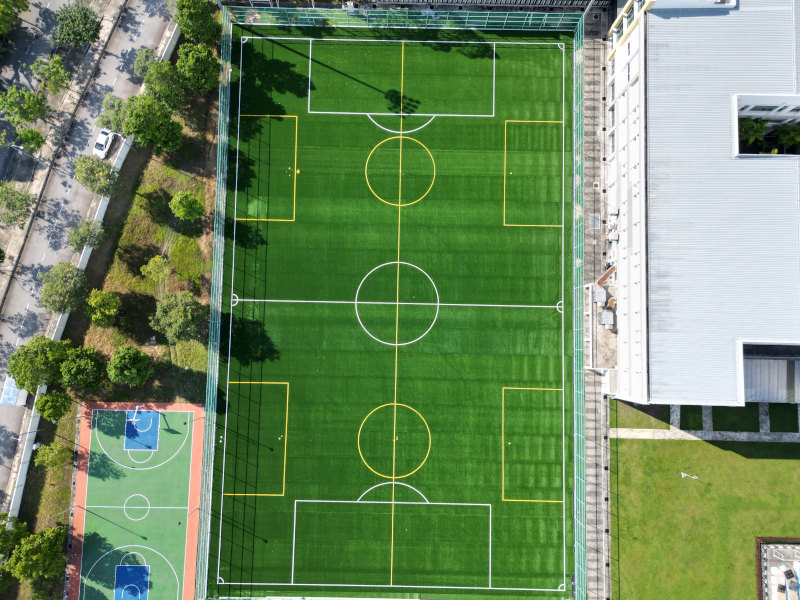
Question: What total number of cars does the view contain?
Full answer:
In total, there is 1 car in the scene.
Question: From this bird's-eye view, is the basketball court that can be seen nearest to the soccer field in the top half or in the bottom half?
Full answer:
The basketball court that can be seen nearest to the soccer field sits in the bottom half of the picture.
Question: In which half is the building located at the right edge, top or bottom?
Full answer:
Seen from above, the building located at the right edge lies in the top half of the view.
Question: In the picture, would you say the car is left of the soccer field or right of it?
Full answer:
The car can be seen on the left of the soccer field.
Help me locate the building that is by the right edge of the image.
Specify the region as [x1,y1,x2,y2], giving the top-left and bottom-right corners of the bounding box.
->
[602,0,800,408]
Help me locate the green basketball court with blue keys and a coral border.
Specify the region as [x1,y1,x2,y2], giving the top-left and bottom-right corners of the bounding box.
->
[68,402,206,600]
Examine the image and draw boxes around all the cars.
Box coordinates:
[93,128,114,157]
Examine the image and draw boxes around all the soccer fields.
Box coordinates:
[204,21,577,600]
